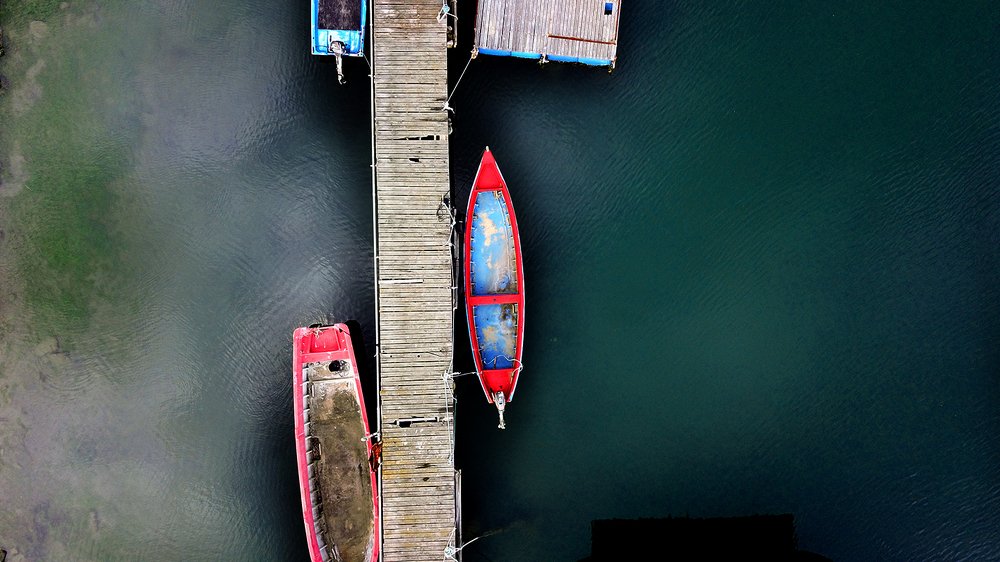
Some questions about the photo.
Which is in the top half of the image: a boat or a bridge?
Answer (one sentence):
There is a boat in the top half of the image.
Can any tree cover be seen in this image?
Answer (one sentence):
No, tree cover can't be seen anywhere here.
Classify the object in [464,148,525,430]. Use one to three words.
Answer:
boat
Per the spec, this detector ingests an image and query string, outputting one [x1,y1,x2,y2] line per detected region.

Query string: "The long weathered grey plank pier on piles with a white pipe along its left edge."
[369,0,462,562]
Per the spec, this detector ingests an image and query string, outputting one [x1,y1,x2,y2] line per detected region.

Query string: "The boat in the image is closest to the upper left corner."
[311,0,368,83]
